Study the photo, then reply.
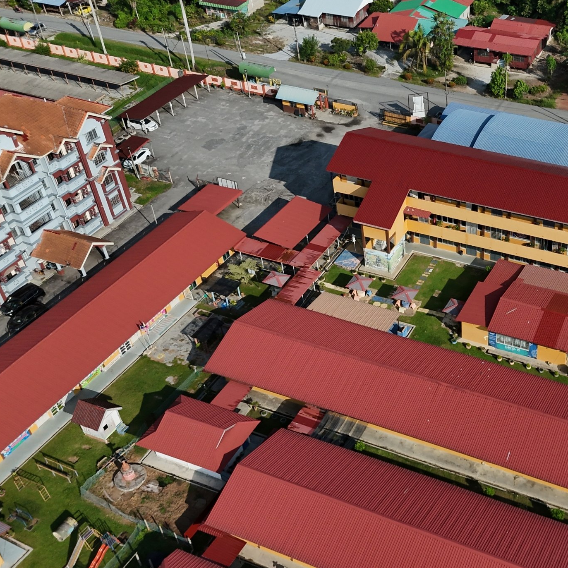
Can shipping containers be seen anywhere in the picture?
No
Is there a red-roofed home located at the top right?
Yes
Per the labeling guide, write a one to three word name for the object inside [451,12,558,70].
house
